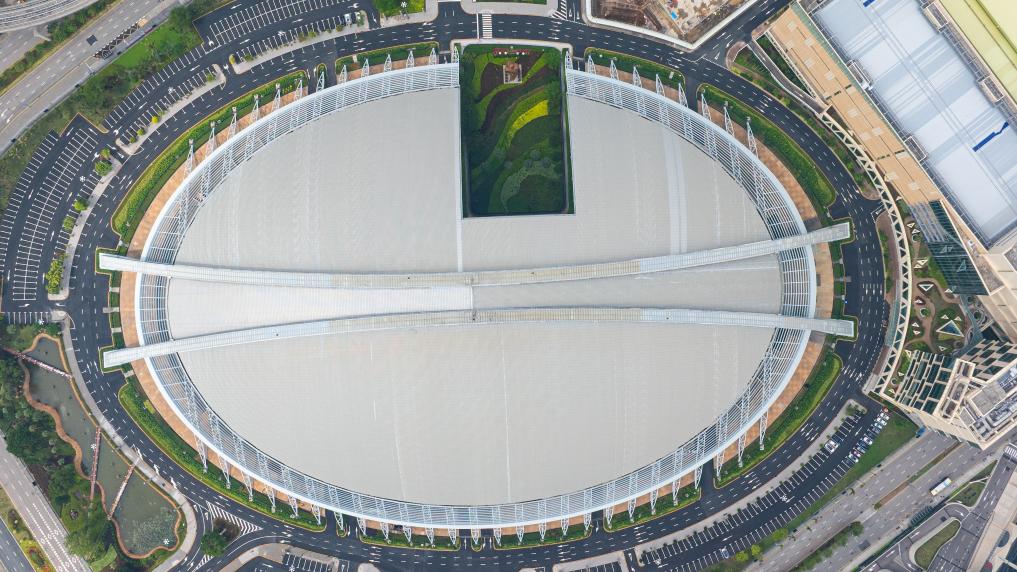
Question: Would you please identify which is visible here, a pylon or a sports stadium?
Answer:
sports stadium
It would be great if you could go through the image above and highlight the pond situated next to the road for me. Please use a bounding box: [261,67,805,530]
[24,338,179,555]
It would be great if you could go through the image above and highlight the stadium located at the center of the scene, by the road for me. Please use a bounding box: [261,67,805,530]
[99,44,854,546]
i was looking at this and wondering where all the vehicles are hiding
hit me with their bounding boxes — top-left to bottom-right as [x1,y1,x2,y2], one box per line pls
[825,442,835,453]
[856,445,868,454]
[877,417,889,427]
[345,13,352,25]
[852,449,864,459]
[864,436,875,446]
[874,421,885,431]
[849,454,860,463]
[721,547,729,559]
[881,412,892,421]
[352,12,358,23]
[871,426,882,435]
[859,441,871,451]
[932,477,956,496]
[829,439,839,450]
[833,434,843,445]
[844,458,855,468]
